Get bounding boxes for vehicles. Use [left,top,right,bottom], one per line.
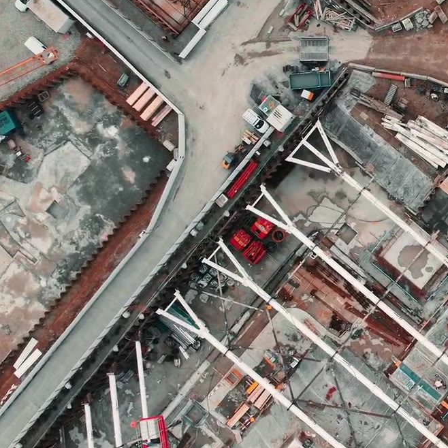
[24,34,59,56]
[239,104,275,138]
[218,142,252,169]
[16,0,31,12]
